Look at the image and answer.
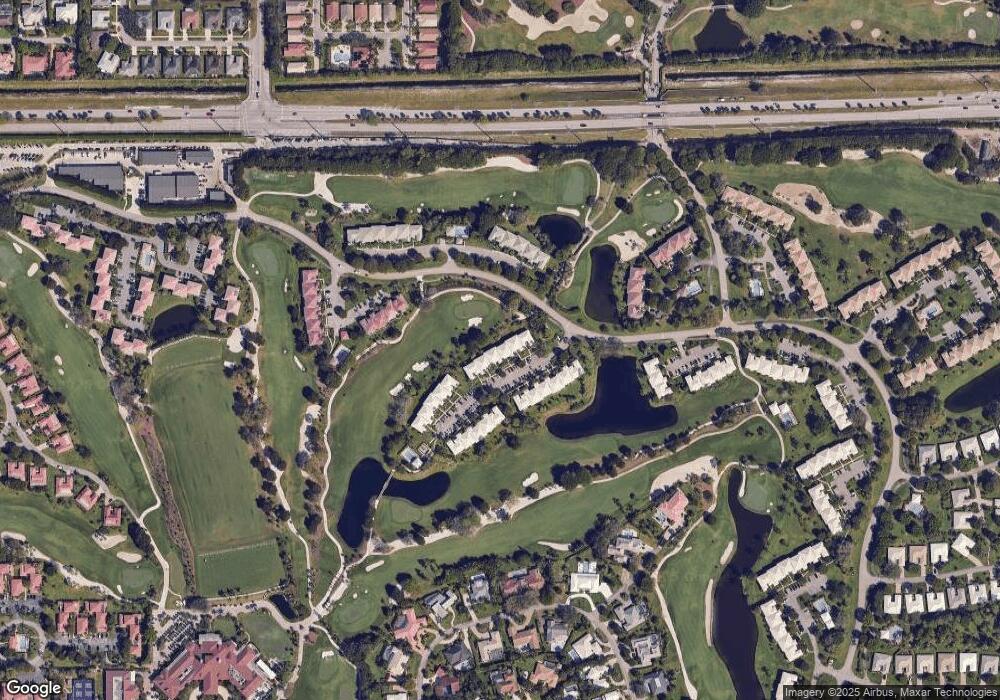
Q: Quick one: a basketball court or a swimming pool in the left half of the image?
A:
swimming pool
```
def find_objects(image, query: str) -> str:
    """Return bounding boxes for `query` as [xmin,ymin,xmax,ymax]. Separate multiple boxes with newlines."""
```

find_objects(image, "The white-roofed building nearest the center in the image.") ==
[464,328,534,379]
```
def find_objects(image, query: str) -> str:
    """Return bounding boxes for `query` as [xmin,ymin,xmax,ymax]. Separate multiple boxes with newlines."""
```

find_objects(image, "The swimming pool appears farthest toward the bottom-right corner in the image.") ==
[889,625,903,641]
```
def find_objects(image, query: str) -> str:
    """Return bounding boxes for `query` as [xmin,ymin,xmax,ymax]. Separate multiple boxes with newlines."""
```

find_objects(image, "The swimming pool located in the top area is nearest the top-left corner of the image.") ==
[139,249,156,271]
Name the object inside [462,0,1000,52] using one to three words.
golf course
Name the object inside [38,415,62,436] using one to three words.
house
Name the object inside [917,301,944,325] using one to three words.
swimming pool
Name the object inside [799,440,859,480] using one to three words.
building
